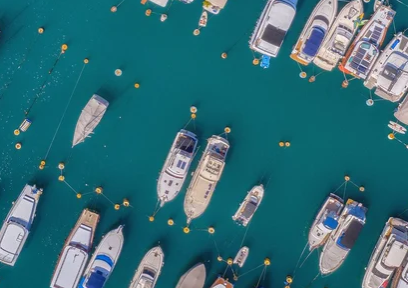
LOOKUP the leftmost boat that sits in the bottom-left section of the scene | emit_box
[0,182,43,268]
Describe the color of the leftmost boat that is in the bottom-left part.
white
